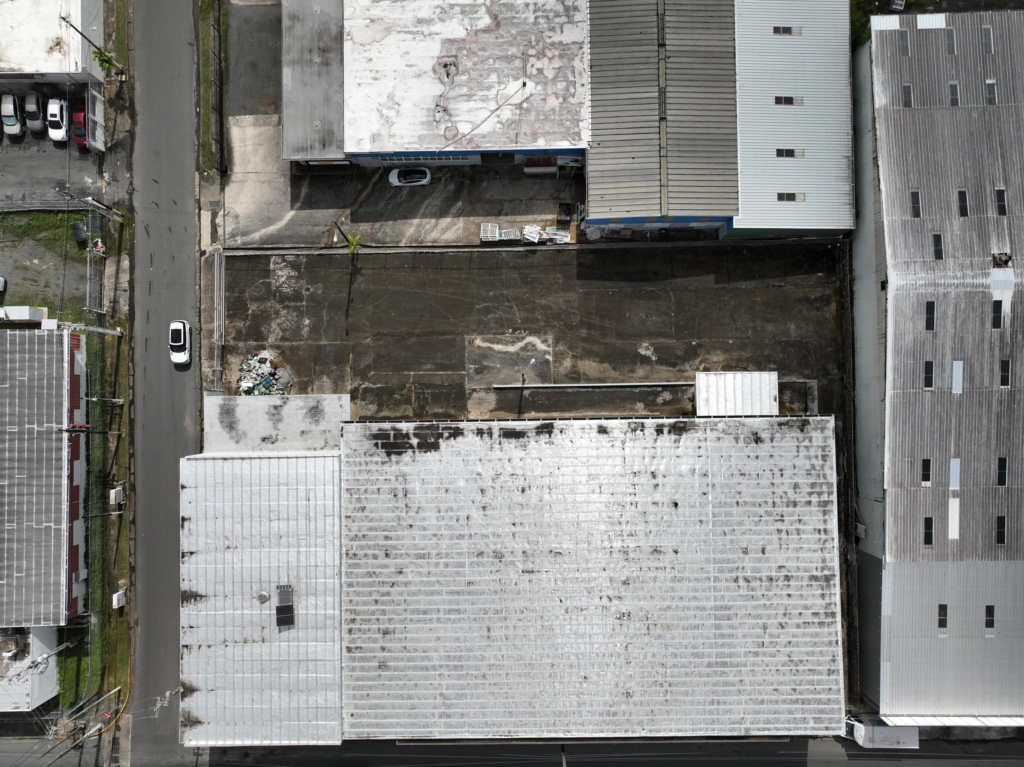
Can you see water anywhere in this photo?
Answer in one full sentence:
No, there is no water in the image.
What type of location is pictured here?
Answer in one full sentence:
What you see here is an industrial area.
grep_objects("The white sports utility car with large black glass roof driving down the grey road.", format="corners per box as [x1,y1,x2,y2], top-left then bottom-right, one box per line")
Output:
[166,321,193,366]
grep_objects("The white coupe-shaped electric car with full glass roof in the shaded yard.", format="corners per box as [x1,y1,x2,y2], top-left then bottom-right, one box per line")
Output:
[386,165,432,188]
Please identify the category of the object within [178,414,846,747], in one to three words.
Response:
warehouse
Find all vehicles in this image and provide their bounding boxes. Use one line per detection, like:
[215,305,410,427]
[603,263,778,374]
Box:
[0,276,5,293]
[166,321,193,366]
[67,104,91,147]
[386,165,432,188]
[836,713,920,749]
[21,91,45,132]
[0,94,27,137]
[43,96,70,141]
